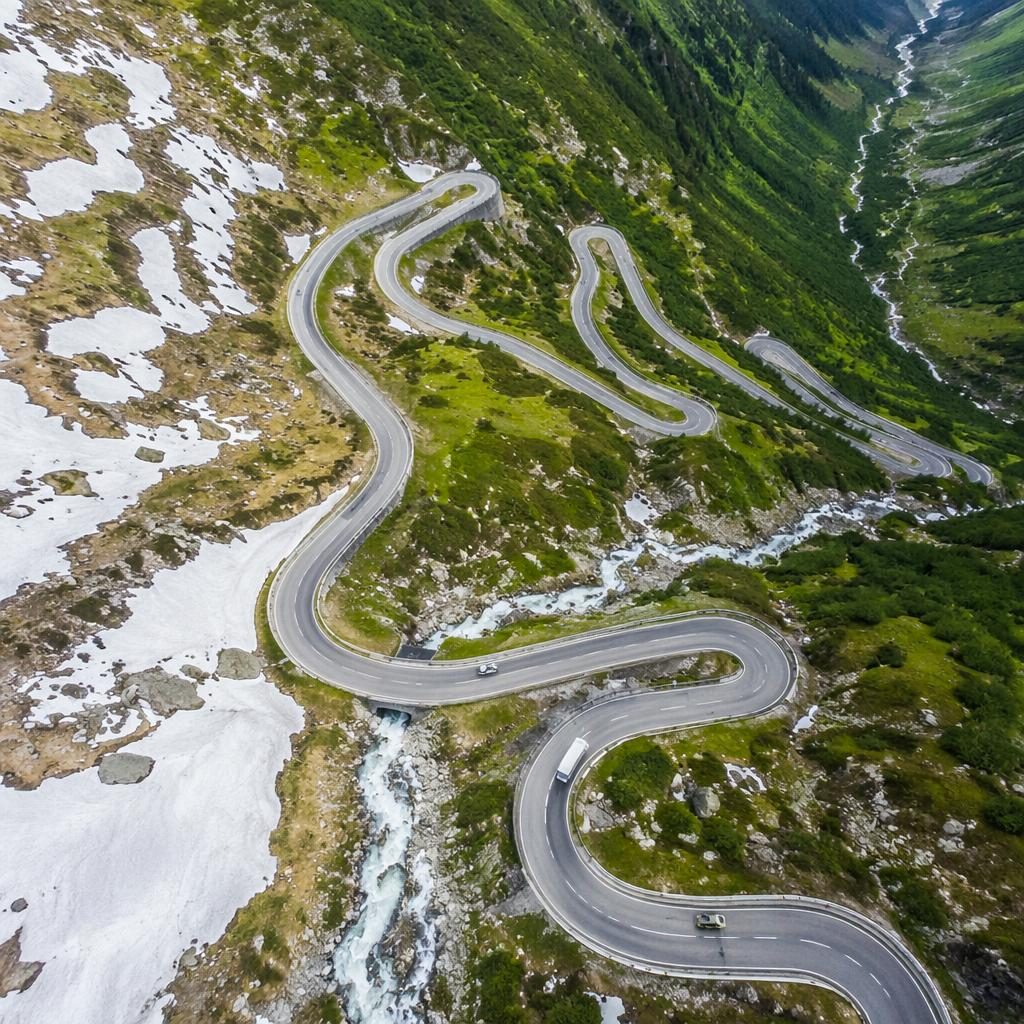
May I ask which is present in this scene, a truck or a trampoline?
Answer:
truck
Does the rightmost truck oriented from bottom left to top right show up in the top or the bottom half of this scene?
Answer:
bottom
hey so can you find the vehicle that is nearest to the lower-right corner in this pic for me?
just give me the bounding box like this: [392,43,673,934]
[694,912,726,929]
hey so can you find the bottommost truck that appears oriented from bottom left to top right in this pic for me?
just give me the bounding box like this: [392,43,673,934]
[554,732,597,781]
